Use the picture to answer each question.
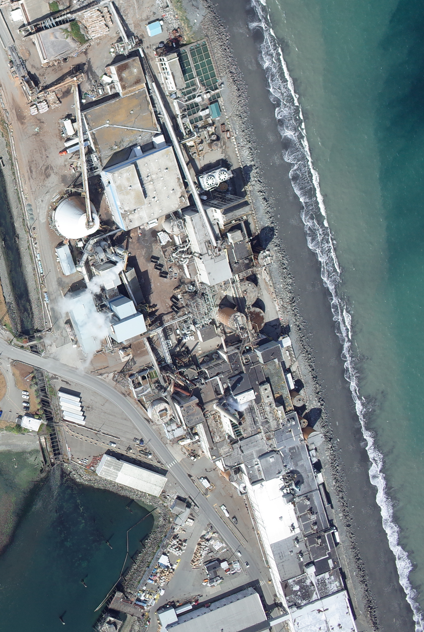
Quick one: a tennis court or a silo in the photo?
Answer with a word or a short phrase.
silo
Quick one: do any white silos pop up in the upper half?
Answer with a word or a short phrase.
Yes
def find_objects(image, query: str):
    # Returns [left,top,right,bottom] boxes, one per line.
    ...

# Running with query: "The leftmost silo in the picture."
[53,194,100,241]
